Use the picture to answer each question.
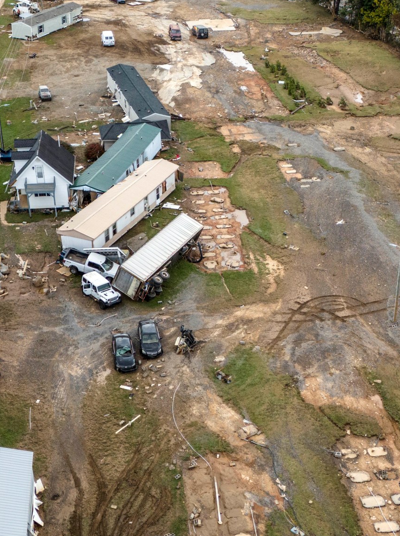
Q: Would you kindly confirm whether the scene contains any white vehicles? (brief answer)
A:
Yes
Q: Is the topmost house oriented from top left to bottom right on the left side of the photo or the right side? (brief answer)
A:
left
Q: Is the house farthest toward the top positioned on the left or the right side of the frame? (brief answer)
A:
left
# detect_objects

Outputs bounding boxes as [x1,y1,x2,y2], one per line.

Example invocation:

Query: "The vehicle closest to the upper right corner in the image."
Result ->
[193,27,208,40]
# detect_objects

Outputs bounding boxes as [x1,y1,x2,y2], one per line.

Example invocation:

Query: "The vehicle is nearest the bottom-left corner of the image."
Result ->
[111,337,138,373]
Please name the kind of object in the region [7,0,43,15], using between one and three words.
vehicle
